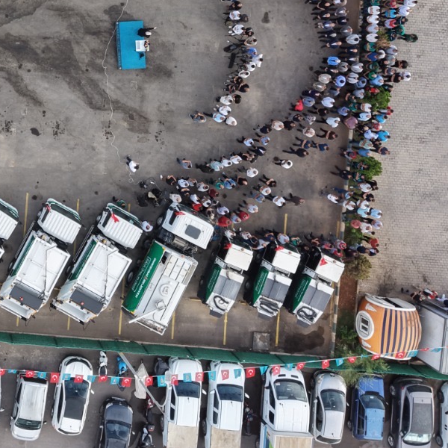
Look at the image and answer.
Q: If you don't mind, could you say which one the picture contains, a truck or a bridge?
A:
truck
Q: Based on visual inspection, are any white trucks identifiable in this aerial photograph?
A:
Yes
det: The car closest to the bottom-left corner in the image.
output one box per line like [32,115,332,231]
[12,371,47,442]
